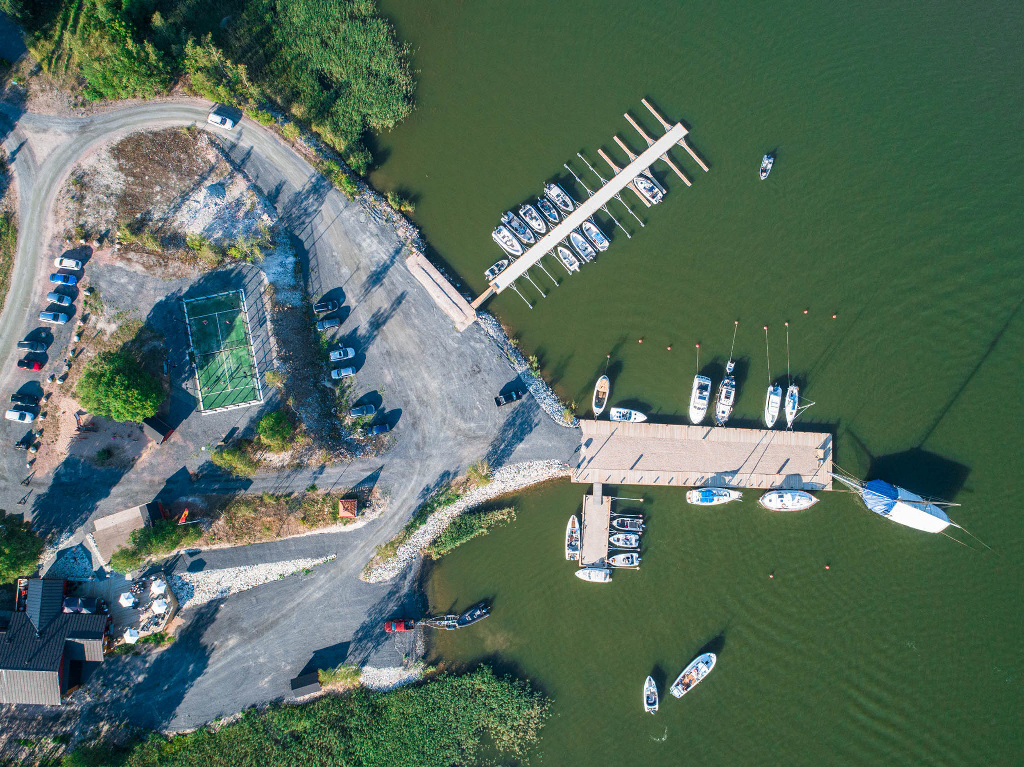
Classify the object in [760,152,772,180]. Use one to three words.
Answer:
boat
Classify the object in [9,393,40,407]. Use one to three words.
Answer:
car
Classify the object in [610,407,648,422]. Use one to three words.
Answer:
boat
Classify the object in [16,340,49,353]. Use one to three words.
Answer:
vehicle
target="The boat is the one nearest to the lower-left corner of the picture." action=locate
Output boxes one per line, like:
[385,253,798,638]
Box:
[455,601,490,627]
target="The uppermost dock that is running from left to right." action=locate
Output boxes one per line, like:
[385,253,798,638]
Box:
[571,419,833,491]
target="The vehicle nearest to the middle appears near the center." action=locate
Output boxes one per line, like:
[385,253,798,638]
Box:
[494,389,524,407]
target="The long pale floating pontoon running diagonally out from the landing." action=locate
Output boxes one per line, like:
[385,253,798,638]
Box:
[488,98,709,309]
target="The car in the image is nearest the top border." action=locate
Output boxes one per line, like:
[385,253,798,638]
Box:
[206,114,236,133]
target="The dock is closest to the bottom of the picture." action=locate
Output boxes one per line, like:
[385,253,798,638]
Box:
[578,494,644,570]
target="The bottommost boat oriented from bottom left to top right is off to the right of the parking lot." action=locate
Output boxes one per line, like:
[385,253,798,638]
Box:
[668,653,716,701]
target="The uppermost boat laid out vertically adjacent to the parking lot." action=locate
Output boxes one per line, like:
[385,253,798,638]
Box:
[592,375,610,416]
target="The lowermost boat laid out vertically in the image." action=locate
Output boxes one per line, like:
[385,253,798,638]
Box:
[643,675,658,715]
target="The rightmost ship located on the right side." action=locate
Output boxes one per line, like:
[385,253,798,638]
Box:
[827,471,965,534]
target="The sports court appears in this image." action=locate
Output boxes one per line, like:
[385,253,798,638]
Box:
[171,285,262,415]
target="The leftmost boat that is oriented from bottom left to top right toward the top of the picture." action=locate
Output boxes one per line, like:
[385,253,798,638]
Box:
[484,261,508,279]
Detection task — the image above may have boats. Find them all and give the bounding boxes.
[565,515,580,563]
[714,375,739,425]
[559,247,578,271]
[455,601,490,627]
[759,490,820,511]
[575,567,614,583]
[688,375,711,424]
[635,176,661,205]
[571,232,597,262]
[609,532,643,548]
[726,360,736,373]
[668,653,716,701]
[583,222,609,252]
[685,487,742,505]
[785,383,811,426]
[491,224,524,256]
[610,407,648,422]
[608,553,642,567]
[643,675,658,715]
[764,383,782,426]
[760,152,772,180]
[520,204,545,233]
[545,183,573,212]
[538,198,558,222]
[592,375,610,416]
[501,212,534,243]
[484,261,508,279]
[612,517,647,530]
